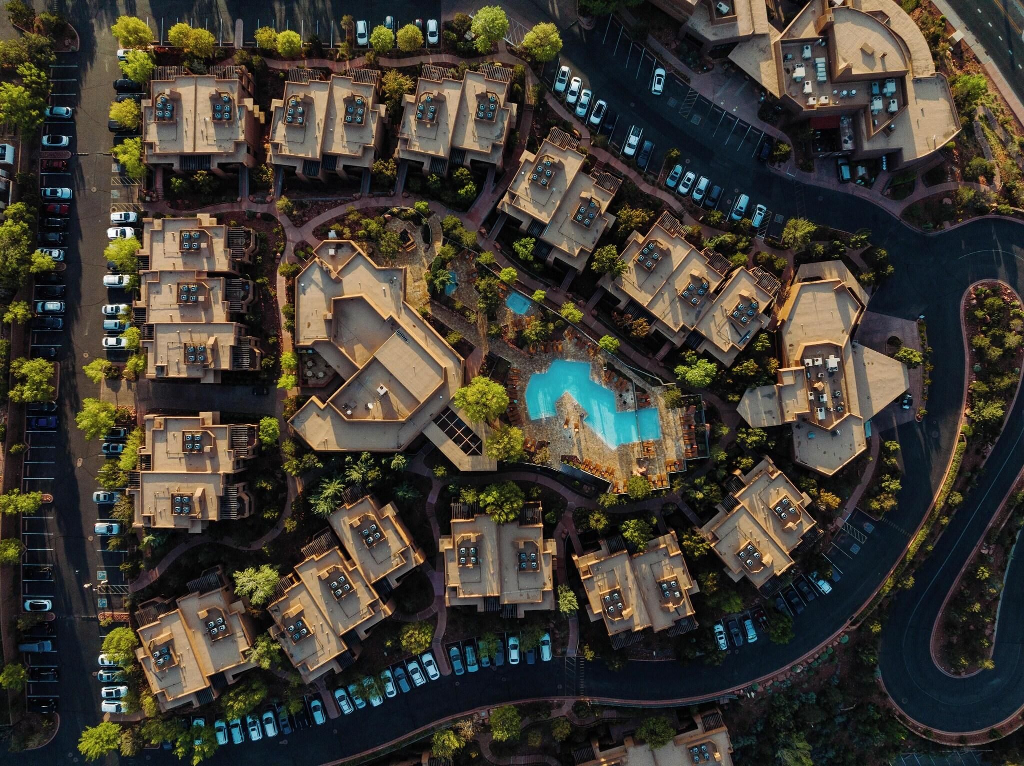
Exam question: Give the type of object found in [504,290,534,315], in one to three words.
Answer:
swimming pool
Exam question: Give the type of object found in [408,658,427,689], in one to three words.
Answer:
car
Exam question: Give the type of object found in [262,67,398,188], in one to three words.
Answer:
house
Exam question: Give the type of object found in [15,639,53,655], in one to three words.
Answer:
vehicle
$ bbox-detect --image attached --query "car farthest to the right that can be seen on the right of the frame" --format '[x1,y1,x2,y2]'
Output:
[897,389,915,415]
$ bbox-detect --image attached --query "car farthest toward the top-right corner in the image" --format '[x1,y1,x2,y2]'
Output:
[837,158,853,184]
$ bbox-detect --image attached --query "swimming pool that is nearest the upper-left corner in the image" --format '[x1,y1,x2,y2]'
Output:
[443,269,458,298]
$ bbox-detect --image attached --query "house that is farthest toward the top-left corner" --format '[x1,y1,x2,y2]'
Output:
[135,65,268,185]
